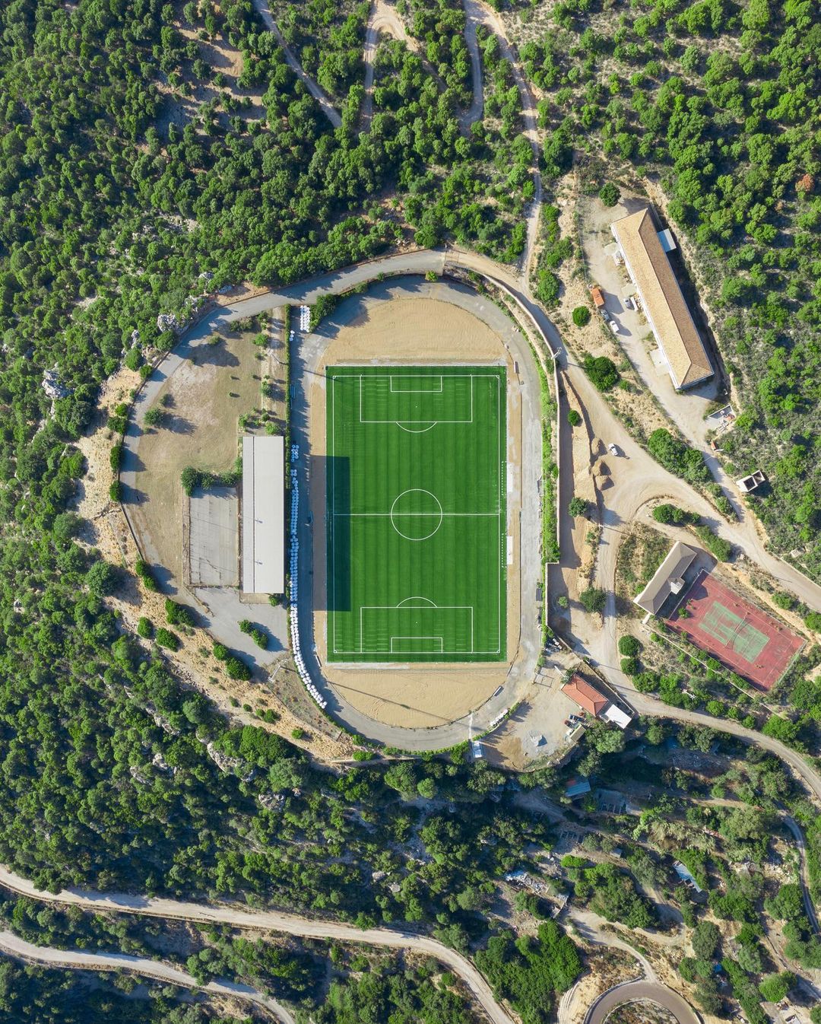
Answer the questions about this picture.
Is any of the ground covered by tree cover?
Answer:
Yes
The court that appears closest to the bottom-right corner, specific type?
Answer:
tennis court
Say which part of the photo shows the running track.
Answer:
center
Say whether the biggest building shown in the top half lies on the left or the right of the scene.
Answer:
right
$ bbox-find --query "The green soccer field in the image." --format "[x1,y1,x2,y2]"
[325,365,508,663]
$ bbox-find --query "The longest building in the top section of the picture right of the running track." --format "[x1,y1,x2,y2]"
[612,208,715,387]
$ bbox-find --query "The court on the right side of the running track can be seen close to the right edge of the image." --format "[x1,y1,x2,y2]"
[666,570,811,693]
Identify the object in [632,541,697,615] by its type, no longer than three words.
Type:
building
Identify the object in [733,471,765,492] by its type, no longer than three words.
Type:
building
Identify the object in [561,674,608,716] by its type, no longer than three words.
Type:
house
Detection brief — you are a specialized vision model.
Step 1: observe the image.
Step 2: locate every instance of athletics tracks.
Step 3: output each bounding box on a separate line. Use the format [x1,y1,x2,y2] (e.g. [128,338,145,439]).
[291,275,542,752]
